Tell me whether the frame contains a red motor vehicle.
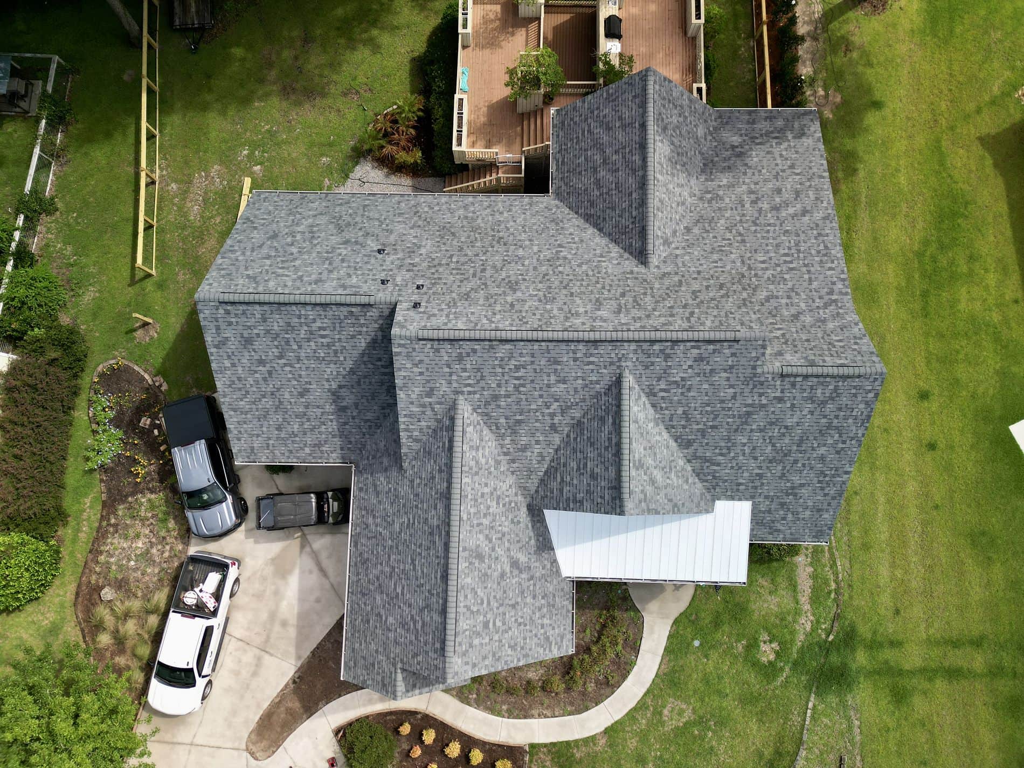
No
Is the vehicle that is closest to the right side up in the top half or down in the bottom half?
bottom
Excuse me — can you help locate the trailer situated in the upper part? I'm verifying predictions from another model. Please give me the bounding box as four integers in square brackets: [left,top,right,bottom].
[168,0,225,52]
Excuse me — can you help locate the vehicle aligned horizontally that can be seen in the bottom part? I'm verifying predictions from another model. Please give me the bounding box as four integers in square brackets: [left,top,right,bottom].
[253,486,347,529]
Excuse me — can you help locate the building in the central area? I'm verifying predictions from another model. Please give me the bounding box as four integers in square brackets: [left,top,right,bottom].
[196,68,885,700]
